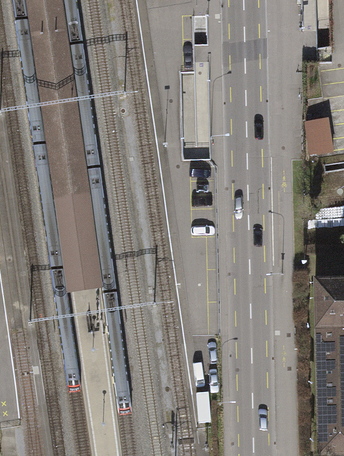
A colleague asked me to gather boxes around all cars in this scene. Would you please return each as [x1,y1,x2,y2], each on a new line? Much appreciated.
[208,371,219,395]
[196,182,210,192]
[258,408,269,432]
[206,342,218,364]
[190,170,212,180]
[182,42,194,68]
[252,225,264,248]
[190,225,214,236]
[192,196,212,207]
[234,192,245,218]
